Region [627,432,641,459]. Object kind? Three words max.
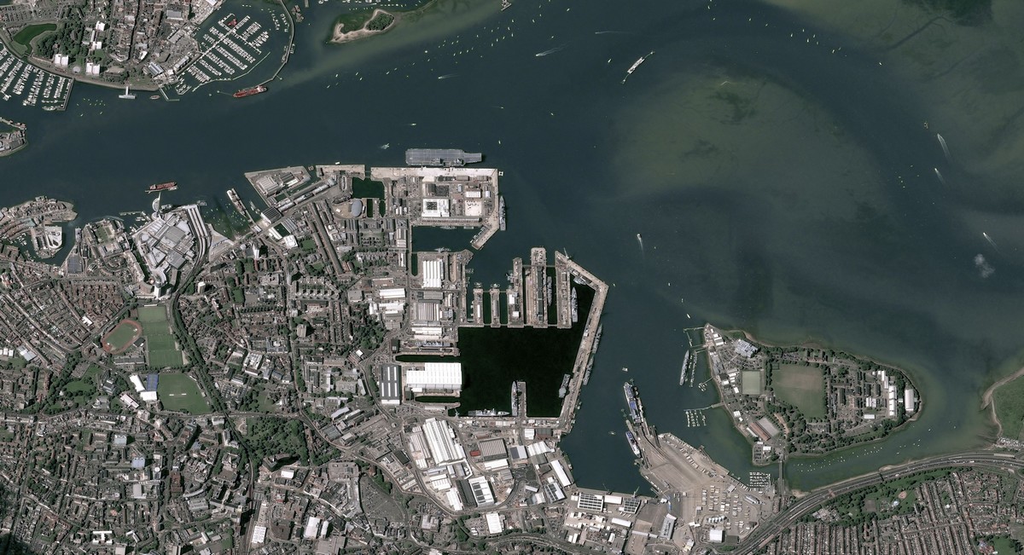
ship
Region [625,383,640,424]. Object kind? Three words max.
ship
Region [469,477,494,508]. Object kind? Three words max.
shed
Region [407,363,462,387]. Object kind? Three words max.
building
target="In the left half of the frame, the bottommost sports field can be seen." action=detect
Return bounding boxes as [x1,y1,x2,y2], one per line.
[158,372,210,413]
